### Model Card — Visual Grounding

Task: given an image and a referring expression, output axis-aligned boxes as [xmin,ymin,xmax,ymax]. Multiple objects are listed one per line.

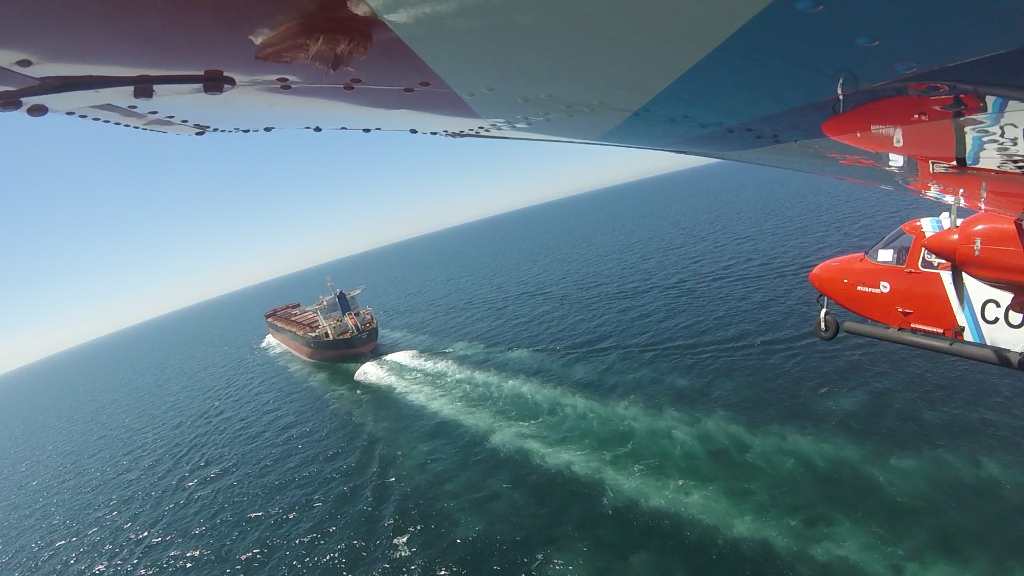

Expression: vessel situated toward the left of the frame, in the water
[267,275,380,360]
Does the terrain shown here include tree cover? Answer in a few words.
No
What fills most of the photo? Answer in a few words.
water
